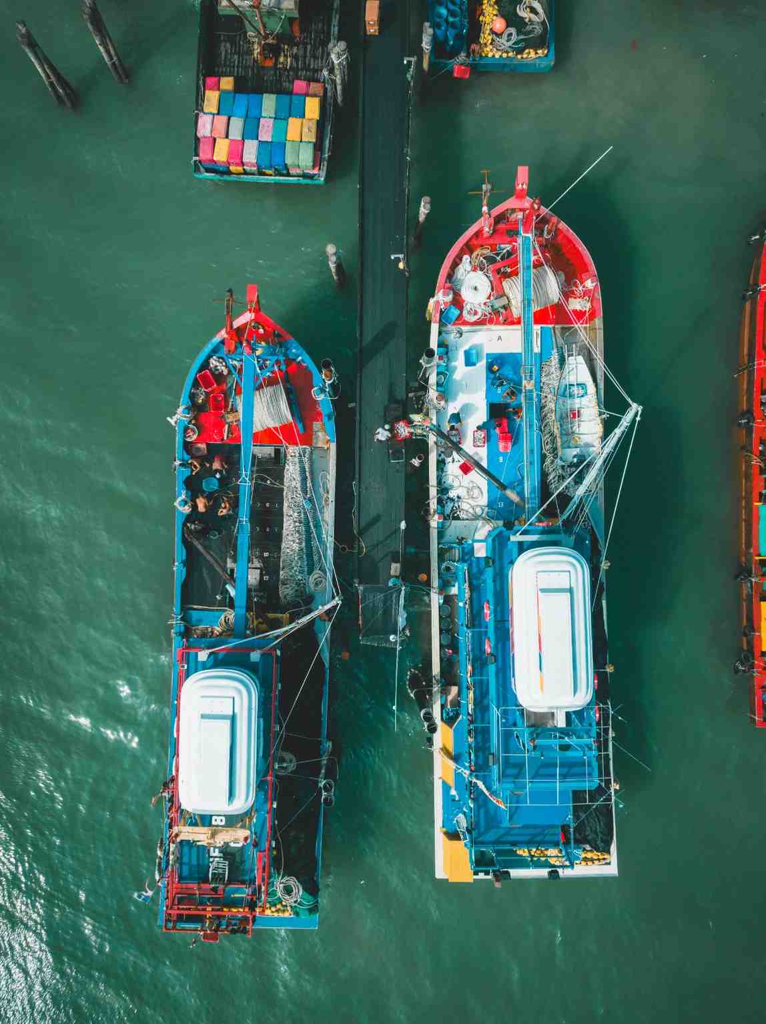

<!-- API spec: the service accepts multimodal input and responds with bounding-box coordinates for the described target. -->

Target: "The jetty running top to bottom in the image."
[356,0,414,585]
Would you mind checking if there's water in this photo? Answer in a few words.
Yes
